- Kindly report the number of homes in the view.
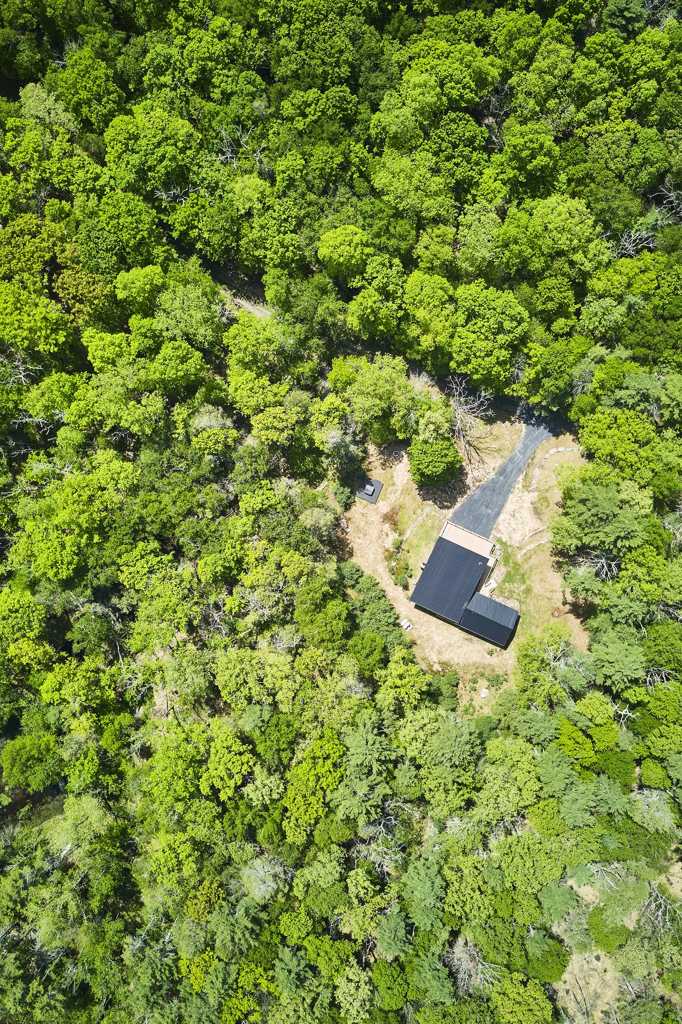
1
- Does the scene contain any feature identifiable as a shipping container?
No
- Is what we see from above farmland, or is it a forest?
forest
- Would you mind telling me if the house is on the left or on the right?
right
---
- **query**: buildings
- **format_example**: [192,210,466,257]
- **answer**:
[410,522,518,646]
